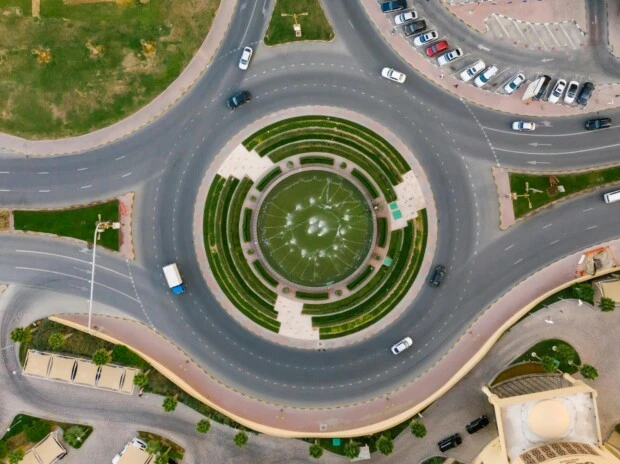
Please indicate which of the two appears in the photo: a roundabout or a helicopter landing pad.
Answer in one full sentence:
The one in the frame is a roundabout.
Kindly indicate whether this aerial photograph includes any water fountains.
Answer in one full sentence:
Yes, a water fountain appears in the view.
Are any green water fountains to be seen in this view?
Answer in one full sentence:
Yes, there is a green water fountain in the image.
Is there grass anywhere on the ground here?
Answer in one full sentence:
Yes, some grass is visible.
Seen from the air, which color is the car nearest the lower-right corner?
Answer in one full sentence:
In this view, the car nearest the lower-right corner is black.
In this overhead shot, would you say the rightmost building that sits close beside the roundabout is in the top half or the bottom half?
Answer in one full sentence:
The bottom half of the photo is where the rightmost building that sits close beside the roundabout is.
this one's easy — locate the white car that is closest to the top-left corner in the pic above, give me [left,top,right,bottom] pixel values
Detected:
[239,46,252,71]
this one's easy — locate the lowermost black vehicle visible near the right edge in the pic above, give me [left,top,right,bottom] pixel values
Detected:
[582,116,612,131]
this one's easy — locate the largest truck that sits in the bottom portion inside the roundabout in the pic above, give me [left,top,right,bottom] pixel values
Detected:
[162,264,185,295]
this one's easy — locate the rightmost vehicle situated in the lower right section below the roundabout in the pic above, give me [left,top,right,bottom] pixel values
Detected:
[464,414,490,435]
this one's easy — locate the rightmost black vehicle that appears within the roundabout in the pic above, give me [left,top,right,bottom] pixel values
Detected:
[430,263,447,288]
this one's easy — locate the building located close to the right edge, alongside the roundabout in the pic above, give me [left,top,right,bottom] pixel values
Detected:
[463,371,620,464]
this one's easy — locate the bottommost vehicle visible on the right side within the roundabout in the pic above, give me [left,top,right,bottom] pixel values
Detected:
[389,335,414,356]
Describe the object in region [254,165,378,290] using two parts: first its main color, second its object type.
green fountain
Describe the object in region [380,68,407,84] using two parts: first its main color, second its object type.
white car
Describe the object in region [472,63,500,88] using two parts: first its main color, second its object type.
white car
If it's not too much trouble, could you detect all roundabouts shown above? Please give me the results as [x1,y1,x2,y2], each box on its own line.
[144,56,488,400]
